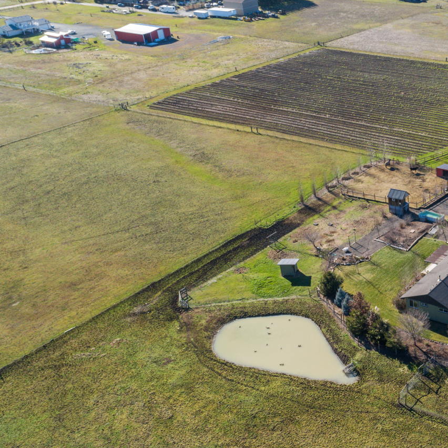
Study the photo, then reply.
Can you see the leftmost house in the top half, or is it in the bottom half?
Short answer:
top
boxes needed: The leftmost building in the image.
[5,17,41,42]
